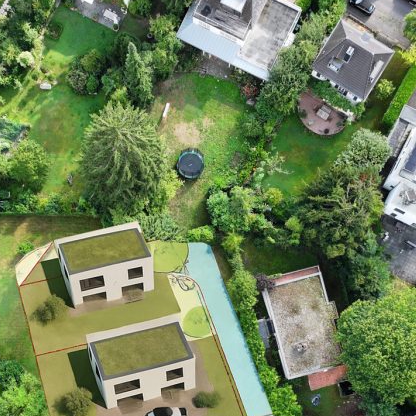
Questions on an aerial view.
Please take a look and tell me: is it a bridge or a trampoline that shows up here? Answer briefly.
trampoline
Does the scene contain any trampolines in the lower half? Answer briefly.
No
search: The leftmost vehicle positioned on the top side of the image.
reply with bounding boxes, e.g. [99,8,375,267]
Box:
[347,0,377,18]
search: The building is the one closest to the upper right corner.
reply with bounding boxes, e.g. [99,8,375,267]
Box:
[311,19,394,103]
